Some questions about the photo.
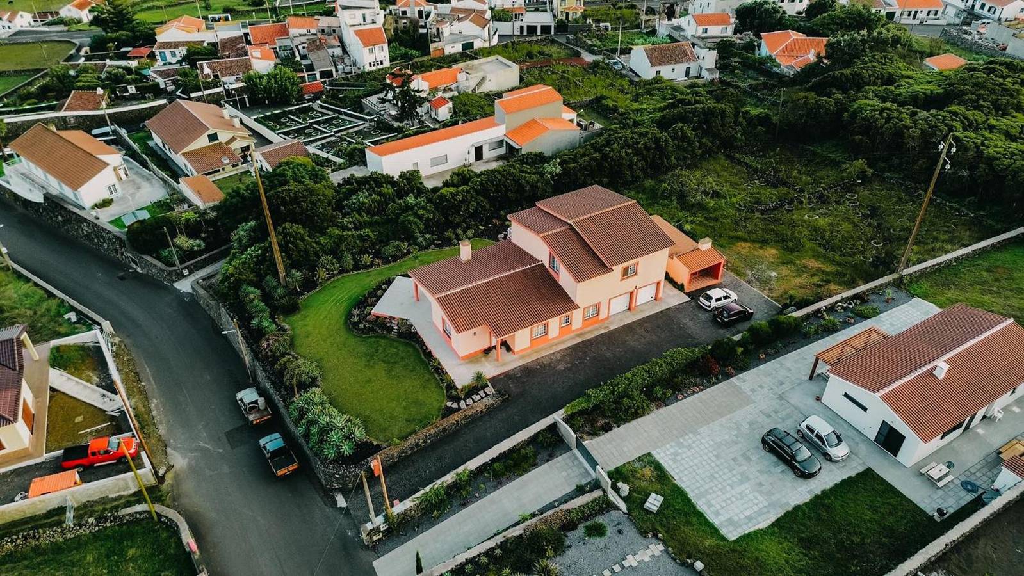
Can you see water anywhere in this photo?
No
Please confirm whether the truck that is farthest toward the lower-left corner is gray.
No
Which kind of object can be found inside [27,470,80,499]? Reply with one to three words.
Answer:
shed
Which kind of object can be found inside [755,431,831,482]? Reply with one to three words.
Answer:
car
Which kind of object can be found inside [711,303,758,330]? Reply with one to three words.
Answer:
car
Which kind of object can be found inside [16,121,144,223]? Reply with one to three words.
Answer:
house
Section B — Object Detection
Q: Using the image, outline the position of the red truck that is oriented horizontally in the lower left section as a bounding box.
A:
[53,437,140,477]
